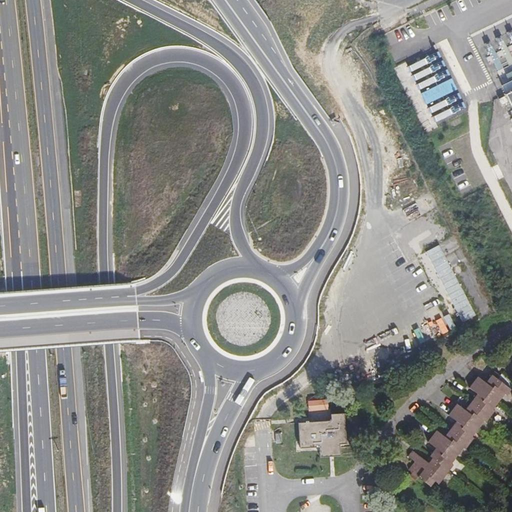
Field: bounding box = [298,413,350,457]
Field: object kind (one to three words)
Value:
building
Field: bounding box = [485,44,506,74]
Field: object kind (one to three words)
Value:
truck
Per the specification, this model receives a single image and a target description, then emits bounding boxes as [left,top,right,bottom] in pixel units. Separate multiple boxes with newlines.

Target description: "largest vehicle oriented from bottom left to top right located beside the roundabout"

[234,377,256,406]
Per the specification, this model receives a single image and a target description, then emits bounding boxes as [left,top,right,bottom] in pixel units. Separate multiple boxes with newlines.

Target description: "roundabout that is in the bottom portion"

[182,256,306,381]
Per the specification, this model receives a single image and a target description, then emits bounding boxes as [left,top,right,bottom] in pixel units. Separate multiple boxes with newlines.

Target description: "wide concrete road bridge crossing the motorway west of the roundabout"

[0,282,140,351]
